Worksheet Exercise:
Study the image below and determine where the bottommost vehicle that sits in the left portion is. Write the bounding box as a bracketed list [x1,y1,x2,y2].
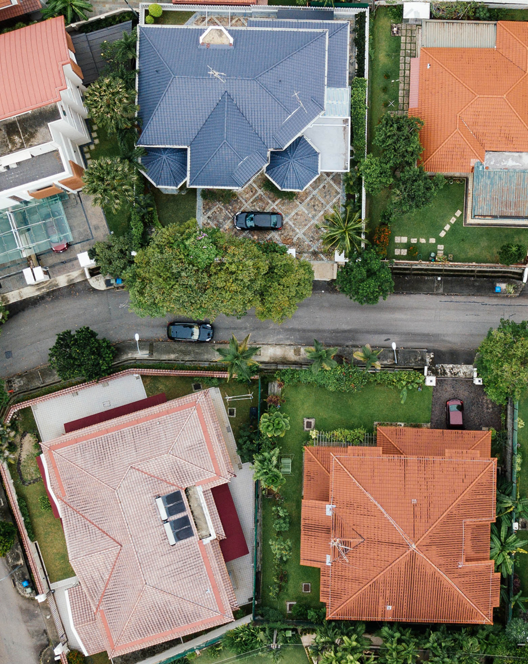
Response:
[165,319,216,343]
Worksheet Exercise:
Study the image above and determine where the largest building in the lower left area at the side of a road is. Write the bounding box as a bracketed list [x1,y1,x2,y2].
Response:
[35,388,249,659]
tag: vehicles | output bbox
[40,211,72,258]
[235,208,284,232]
[443,394,466,430]
[165,319,216,343]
